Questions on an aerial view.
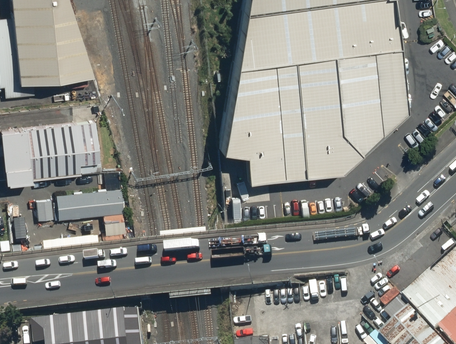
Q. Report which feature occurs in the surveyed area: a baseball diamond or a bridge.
bridge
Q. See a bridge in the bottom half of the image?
Yes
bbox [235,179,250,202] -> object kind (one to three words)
vehicle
